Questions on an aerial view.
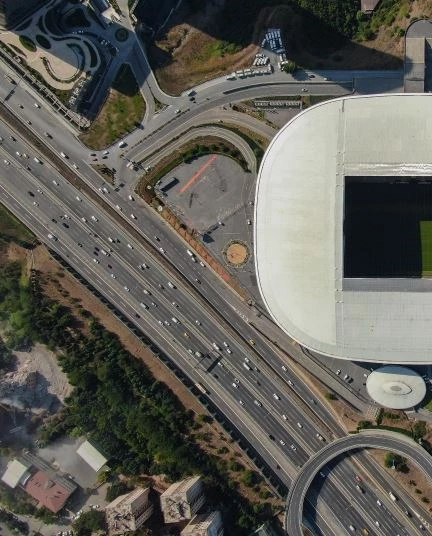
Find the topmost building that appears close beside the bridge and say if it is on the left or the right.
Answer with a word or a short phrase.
right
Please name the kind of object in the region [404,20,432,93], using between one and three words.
building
